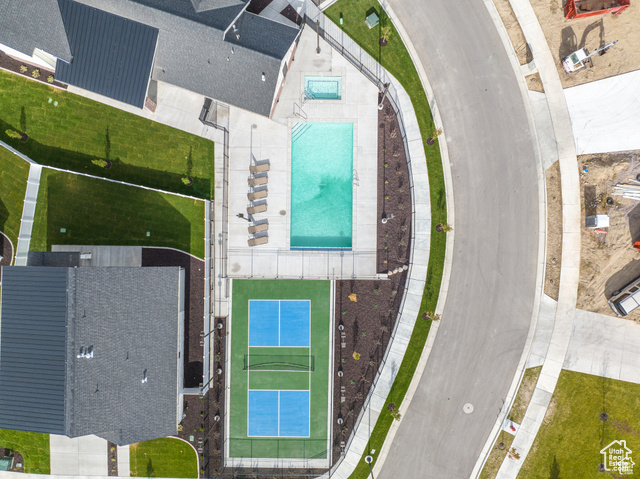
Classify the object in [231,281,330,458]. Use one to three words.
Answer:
sports court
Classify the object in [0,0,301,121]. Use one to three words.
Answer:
building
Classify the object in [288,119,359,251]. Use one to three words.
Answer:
swimming pool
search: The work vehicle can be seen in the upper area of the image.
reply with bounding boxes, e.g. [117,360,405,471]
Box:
[561,39,622,75]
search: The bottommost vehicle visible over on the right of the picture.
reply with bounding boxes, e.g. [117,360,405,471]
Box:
[611,281,640,317]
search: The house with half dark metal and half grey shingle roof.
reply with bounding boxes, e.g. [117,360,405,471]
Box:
[1,252,186,446]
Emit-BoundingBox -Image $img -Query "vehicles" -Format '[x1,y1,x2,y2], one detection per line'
[561,39,622,75]
[611,281,640,317]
